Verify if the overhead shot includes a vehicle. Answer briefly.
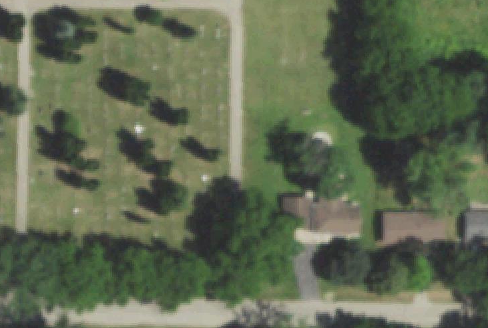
No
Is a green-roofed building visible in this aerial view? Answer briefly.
No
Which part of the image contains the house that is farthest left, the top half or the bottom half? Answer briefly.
bottom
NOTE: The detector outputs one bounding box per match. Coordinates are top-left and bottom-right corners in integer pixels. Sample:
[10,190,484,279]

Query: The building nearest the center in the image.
[279,193,364,234]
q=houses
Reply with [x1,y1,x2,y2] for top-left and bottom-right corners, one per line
[463,203,488,241]
[382,211,447,241]
[279,193,364,234]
